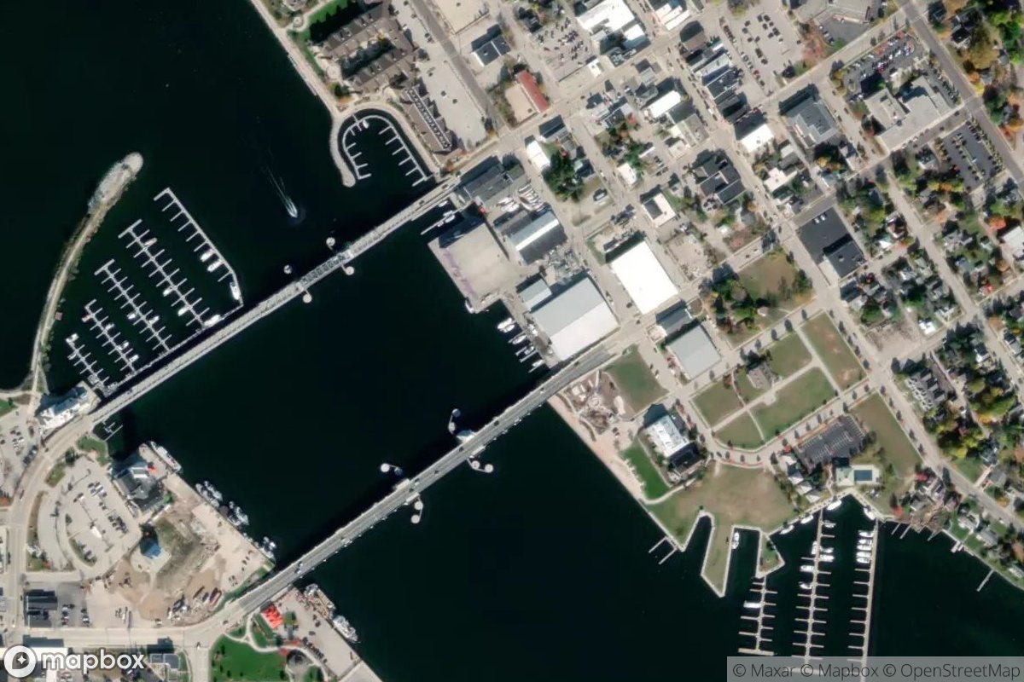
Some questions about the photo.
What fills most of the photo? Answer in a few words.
water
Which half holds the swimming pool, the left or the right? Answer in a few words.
right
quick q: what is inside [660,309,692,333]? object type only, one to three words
building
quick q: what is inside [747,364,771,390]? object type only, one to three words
house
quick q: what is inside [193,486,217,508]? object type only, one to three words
boat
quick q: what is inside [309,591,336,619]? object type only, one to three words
ship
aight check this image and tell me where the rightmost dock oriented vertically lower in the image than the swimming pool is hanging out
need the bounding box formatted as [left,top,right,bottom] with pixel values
[843,518,878,682]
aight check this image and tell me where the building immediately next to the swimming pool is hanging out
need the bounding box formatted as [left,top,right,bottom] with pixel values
[836,467,854,486]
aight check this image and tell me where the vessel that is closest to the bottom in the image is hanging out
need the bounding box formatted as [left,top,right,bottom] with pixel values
[333,619,360,646]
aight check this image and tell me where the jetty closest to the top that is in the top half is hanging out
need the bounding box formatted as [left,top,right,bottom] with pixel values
[343,114,432,186]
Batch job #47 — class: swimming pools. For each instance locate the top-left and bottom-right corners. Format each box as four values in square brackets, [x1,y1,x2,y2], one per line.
[852,465,879,485]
